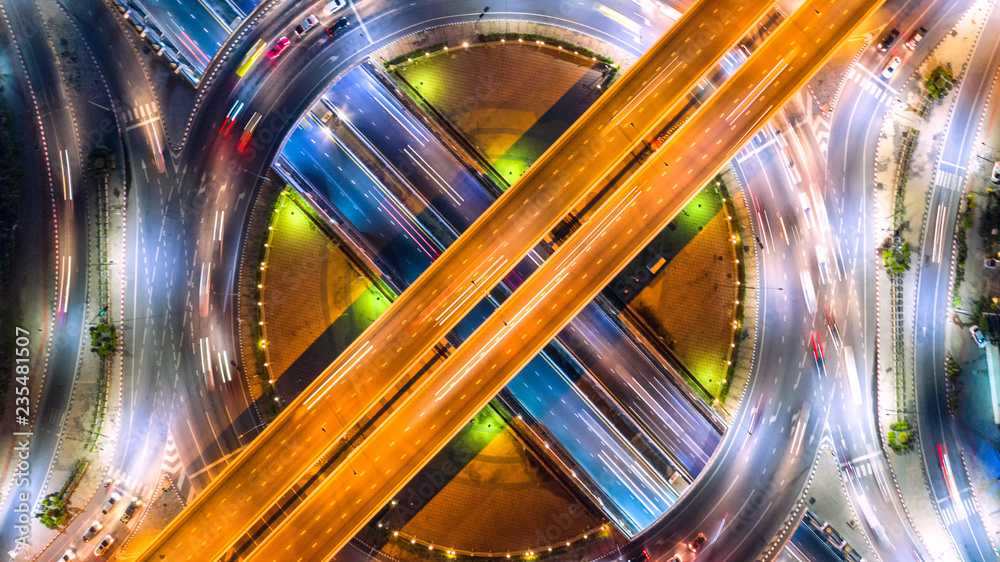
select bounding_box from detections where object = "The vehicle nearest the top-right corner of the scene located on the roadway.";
[905,24,930,50]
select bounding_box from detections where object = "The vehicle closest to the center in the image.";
[505,266,524,286]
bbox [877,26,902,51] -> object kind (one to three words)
truck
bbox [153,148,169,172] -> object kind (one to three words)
car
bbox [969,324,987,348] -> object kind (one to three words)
car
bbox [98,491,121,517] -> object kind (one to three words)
truck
